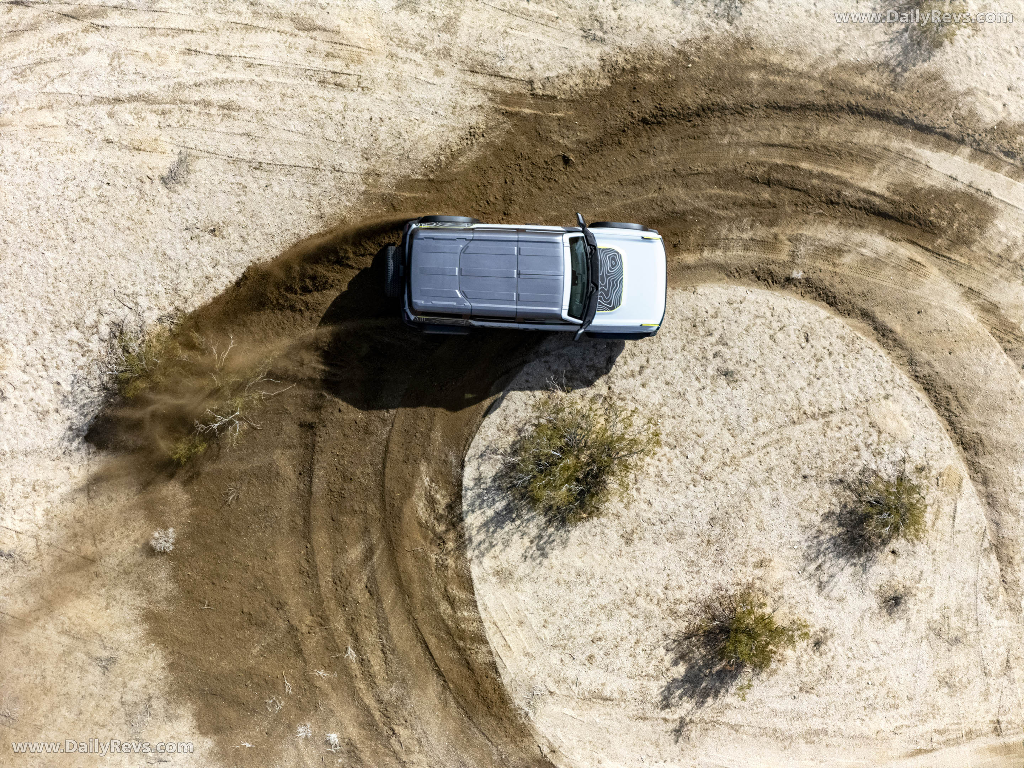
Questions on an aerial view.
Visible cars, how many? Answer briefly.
1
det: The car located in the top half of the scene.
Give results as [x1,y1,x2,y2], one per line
[384,212,671,345]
